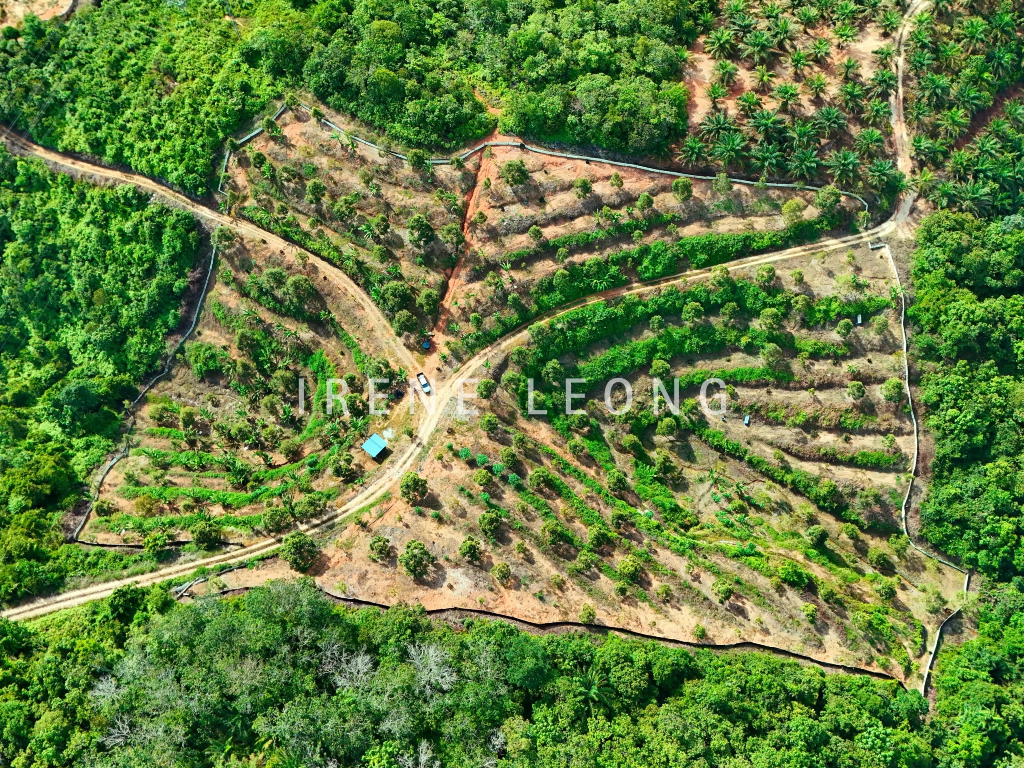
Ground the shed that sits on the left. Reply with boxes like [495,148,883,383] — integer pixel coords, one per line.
[362,434,388,461]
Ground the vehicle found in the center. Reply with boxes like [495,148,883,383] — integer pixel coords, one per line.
[416,373,431,395]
